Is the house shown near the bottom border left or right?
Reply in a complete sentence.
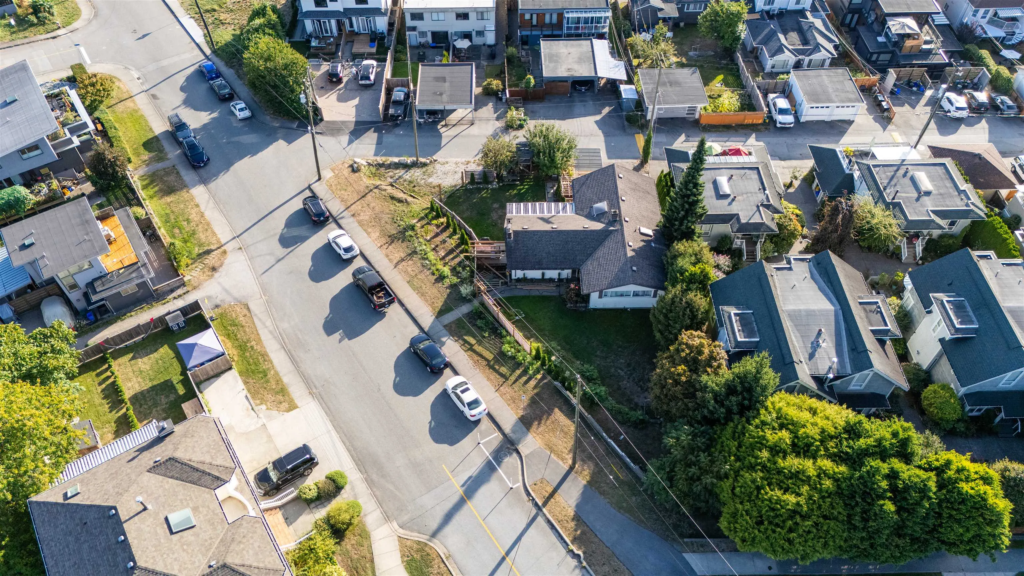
It is on the left.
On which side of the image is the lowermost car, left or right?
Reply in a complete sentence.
The lowermost car is on the left side of the image.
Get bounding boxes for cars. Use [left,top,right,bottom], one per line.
[767,93,794,128]
[574,79,591,93]
[250,443,325,500]
[229,101,252,122]
[166,109,195,144]
[443,371,489,425]
[938,93,967,118]
[328,59,346,82]
[325,226,359,264]
[387,88,408,120]
[988,92,1020,117]
[197,60,221,83]
[359,62,377,86]
[299,192,330,227]
[408,328,451,376]
[959,87,990,112]
[351,263,396,315]
[209,79,234,103]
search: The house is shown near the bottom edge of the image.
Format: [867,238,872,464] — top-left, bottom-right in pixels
[26,413,296,576]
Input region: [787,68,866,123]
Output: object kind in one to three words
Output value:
building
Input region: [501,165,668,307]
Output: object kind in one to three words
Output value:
house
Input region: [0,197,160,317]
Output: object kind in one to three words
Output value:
house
